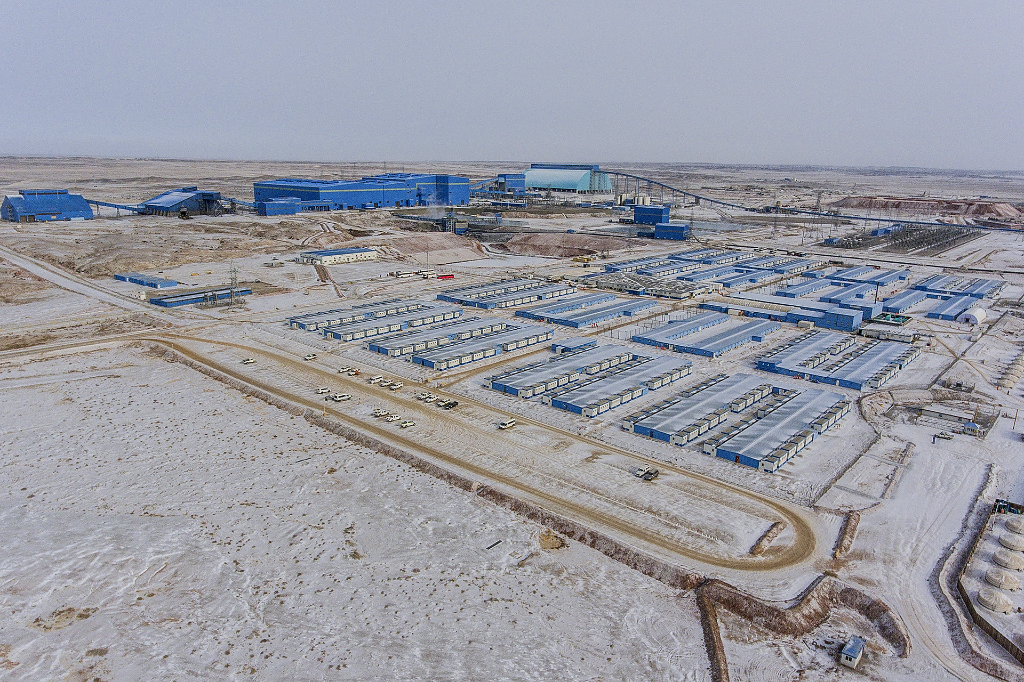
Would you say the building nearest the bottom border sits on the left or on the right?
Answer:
right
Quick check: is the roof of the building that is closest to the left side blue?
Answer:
Yes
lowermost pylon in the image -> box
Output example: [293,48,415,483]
[227,257,243,310]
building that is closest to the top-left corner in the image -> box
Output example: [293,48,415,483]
[0,191,93,221]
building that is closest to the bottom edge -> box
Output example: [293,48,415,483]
[840,632,867,668]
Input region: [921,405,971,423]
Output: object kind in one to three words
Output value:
shed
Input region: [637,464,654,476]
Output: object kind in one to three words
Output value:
vehicle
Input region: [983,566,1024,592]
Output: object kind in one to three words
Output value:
tent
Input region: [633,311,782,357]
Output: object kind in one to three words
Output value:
building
